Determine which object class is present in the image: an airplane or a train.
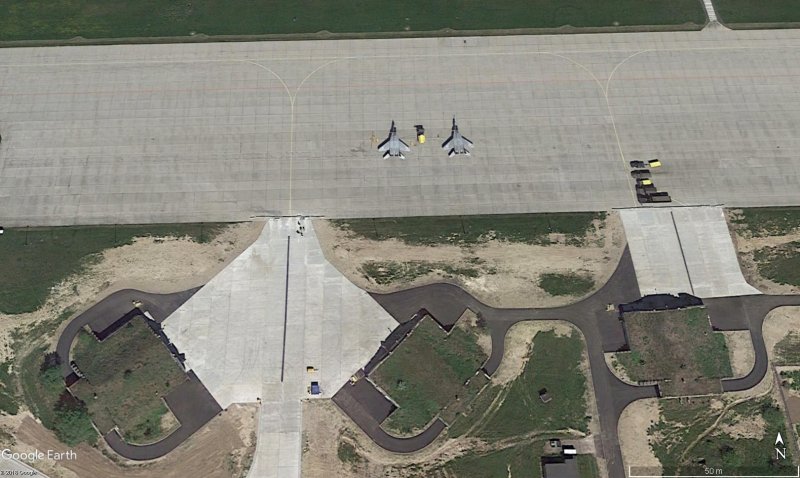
airplane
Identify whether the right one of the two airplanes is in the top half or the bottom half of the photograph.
top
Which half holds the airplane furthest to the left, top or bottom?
top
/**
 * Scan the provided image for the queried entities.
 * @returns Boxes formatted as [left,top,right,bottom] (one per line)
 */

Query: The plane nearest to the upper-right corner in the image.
[442,120,474,156]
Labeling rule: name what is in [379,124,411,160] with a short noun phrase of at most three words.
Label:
airplane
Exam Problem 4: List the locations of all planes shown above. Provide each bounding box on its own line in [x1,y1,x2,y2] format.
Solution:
[379,124,411,160]
[442,120,474,156]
